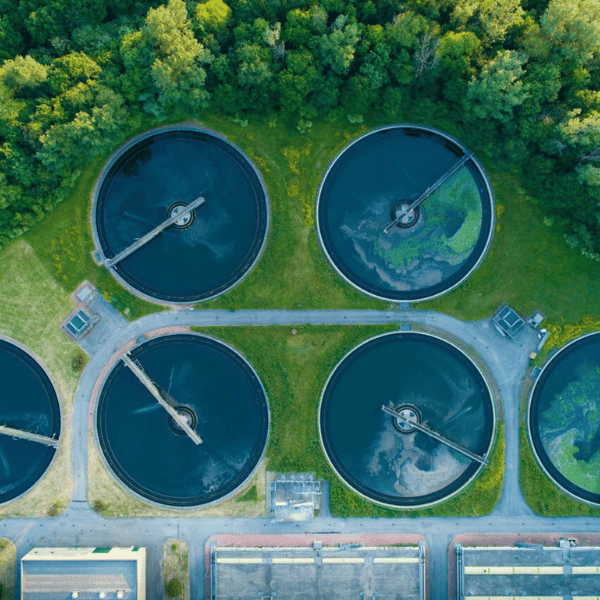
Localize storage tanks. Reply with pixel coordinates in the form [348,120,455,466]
[318,330,496,509]
[0,336,64,506]
[93,331,272,509]
[93,127,271,305]
[316,124,495,303]
[527,332,600,507]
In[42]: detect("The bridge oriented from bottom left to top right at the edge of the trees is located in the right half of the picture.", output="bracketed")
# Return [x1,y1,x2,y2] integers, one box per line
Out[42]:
[384,148,476,233]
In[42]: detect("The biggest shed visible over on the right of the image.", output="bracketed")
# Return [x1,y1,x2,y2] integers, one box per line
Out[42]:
[489,304,526,339]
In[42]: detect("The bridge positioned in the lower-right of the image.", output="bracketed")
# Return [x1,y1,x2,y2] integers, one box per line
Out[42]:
[382,405,492,469]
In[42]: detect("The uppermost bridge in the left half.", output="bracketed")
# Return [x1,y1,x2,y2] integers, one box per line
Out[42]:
[103,198,206,267]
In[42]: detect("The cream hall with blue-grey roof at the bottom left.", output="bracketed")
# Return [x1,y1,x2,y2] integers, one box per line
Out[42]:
[21,547,146,600]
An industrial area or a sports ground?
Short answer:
industrial area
